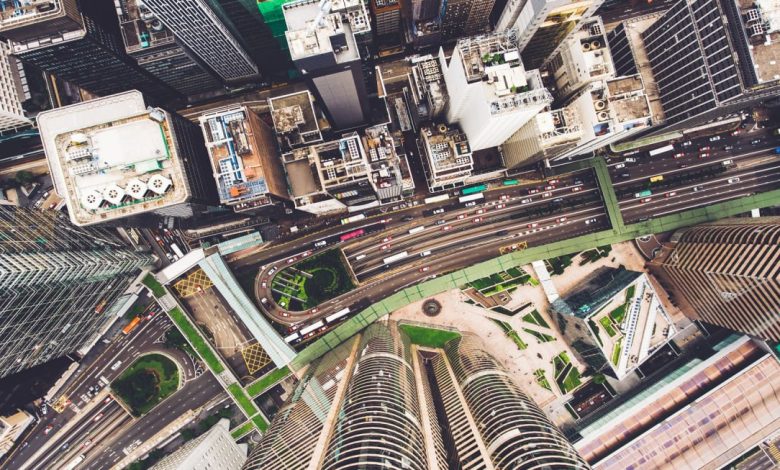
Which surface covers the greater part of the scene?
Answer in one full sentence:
Most of the picture is covered by buildings.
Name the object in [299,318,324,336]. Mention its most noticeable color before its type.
white vehicle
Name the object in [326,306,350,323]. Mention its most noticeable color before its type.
white vehicle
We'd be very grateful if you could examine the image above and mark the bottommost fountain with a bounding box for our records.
[421,297,442,318]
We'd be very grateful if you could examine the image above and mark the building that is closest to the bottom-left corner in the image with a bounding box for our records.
[0,397,42,453]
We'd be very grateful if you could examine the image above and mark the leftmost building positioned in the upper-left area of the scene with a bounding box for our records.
[0,78,55,159]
